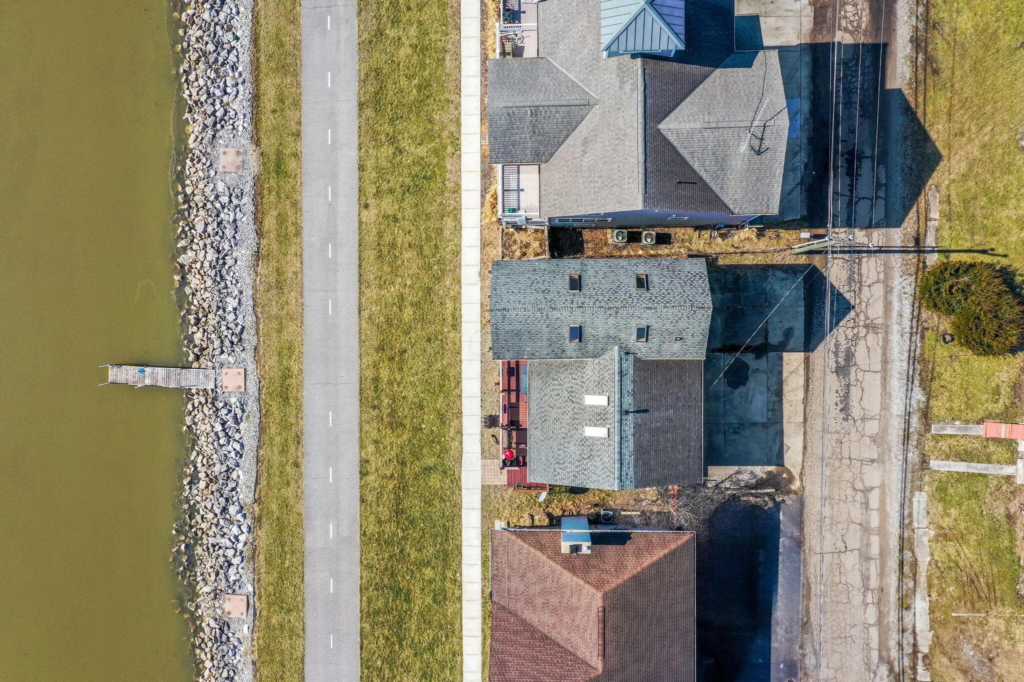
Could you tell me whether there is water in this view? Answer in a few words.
Yes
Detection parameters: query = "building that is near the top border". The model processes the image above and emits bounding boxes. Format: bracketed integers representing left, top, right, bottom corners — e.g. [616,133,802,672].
[487,0,789,232]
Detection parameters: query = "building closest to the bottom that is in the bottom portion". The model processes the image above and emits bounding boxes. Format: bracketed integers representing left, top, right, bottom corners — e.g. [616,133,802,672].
[488,516,697,682]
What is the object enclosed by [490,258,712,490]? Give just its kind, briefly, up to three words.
house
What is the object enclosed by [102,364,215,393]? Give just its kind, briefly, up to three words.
pier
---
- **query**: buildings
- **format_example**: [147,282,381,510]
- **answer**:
[490,258,712,490]
[487,0,789,232]
[488,516,697,682]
